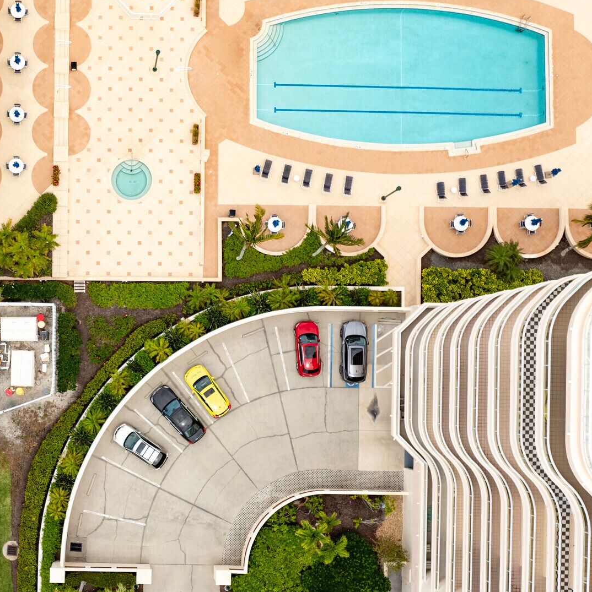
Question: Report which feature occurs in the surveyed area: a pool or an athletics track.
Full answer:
The one in the frame is a pool.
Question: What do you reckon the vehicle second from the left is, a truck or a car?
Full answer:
The vehicle second from the left appears to be a car.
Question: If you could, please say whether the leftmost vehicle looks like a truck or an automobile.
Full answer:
Looking closely, the leftmost vehicle is an automobile.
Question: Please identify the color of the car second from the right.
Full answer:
From above, the car second from the right appears red.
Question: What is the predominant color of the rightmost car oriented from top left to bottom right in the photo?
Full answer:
The color of the rightmost car oriented from top left to bottom right is yellow.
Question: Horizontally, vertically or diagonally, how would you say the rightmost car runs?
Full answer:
I'd say the rightmost car is aligned vertically in the picture.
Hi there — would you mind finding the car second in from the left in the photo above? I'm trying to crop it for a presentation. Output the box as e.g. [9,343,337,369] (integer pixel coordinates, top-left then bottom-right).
[152,383,205,445]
